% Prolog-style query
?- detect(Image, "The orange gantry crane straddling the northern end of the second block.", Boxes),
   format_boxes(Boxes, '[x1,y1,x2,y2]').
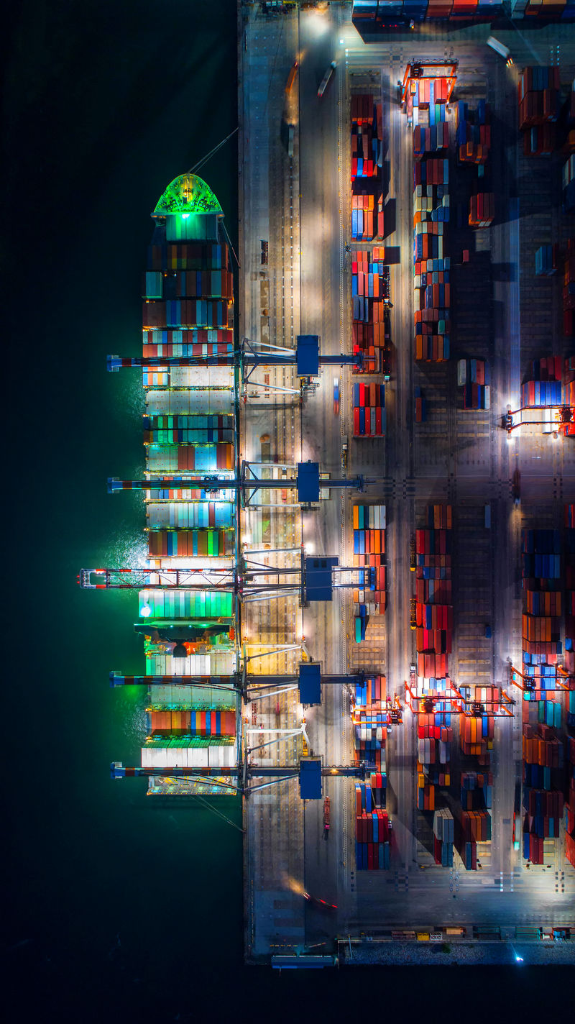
[401,61,461,116]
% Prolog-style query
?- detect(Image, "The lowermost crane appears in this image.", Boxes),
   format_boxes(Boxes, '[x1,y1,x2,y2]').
[107,708,380,799]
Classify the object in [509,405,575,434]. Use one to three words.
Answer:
container crane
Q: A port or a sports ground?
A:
port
